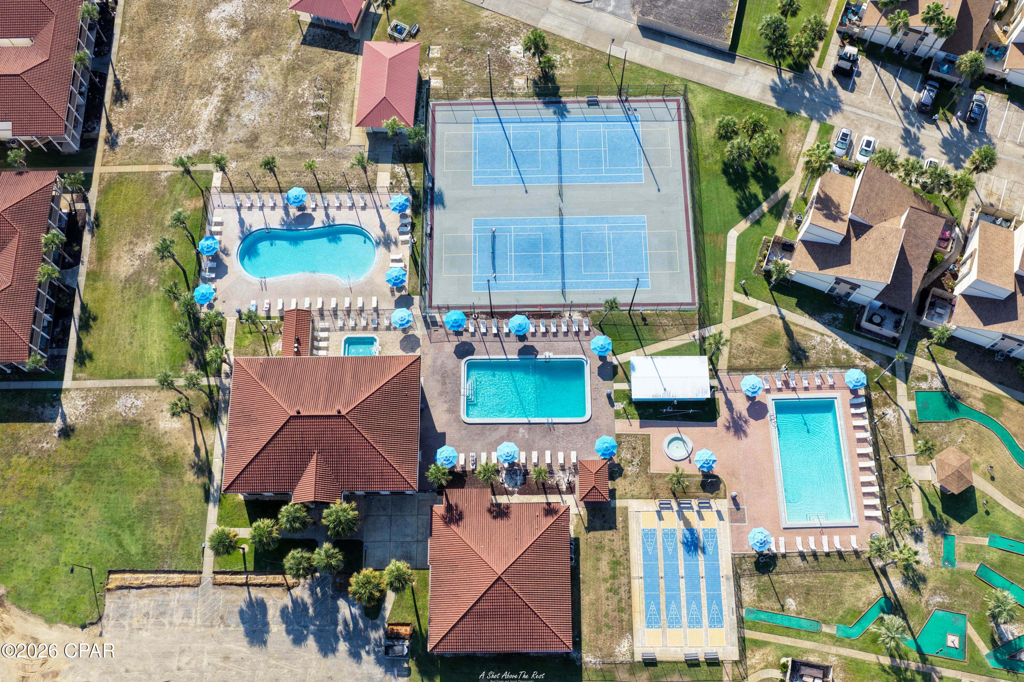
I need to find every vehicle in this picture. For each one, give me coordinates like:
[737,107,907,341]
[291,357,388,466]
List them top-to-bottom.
[839,44,859,62]
[833,61,853,78]
[917,81,939,113]
[965,94,987,125]
[833,126,853,159]
[854,134,876,166]
[918,158,941,190]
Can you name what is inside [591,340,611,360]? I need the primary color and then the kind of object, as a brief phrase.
blue umbrella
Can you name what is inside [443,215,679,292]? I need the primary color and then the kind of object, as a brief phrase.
blue tennis court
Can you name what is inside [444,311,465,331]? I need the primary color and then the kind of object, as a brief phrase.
blue umbrella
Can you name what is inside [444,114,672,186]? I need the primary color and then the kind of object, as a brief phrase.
blue tennis court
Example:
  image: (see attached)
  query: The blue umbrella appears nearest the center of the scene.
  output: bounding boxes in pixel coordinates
[508,315,528,334]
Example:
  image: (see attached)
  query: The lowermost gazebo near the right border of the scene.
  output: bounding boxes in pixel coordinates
[930,446,974,497]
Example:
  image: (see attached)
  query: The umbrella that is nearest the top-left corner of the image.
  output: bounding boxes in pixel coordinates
[199,237,220,255]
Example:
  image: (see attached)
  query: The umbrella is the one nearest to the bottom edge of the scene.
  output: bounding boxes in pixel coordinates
[749,528,771,550]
